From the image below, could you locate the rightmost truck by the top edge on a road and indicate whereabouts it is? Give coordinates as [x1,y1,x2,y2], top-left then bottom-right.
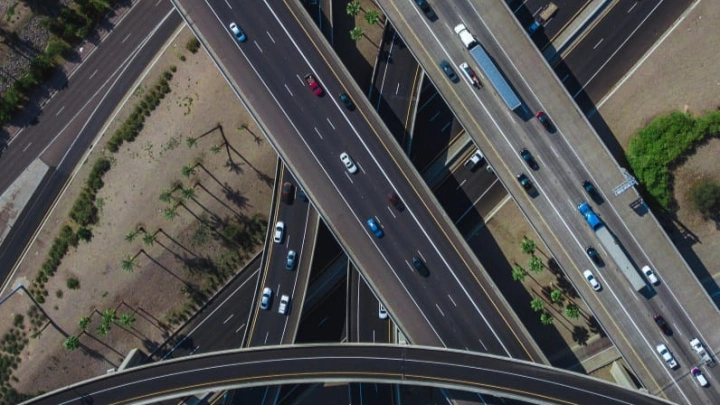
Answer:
[529,0,560,30]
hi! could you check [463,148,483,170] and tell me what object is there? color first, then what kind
white vehicle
